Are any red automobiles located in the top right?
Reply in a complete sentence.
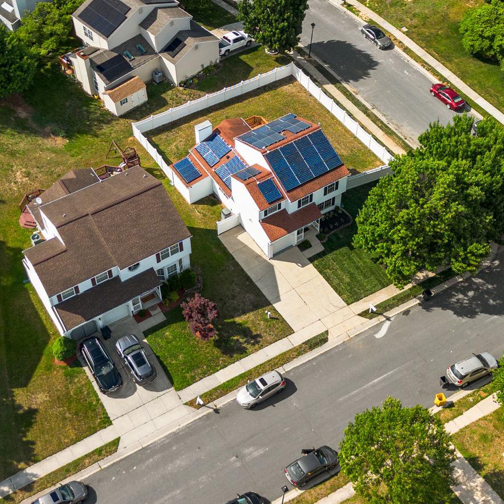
Yes, in the top right there is a red automobile.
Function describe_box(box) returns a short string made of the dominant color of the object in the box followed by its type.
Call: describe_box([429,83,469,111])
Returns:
red car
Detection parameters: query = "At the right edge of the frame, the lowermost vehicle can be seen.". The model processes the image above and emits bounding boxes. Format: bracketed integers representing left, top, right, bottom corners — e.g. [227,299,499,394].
[444,351,501,388]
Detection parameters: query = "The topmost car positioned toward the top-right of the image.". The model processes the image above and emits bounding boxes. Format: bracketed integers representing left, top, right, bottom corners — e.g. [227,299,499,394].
[358,25,395,49]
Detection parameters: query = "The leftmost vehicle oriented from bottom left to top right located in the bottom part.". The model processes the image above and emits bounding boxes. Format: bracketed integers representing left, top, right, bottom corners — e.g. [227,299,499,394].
[235,367,288,409]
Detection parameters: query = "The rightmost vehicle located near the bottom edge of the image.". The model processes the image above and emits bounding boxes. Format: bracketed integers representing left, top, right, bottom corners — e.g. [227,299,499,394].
[281,445,343,490]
